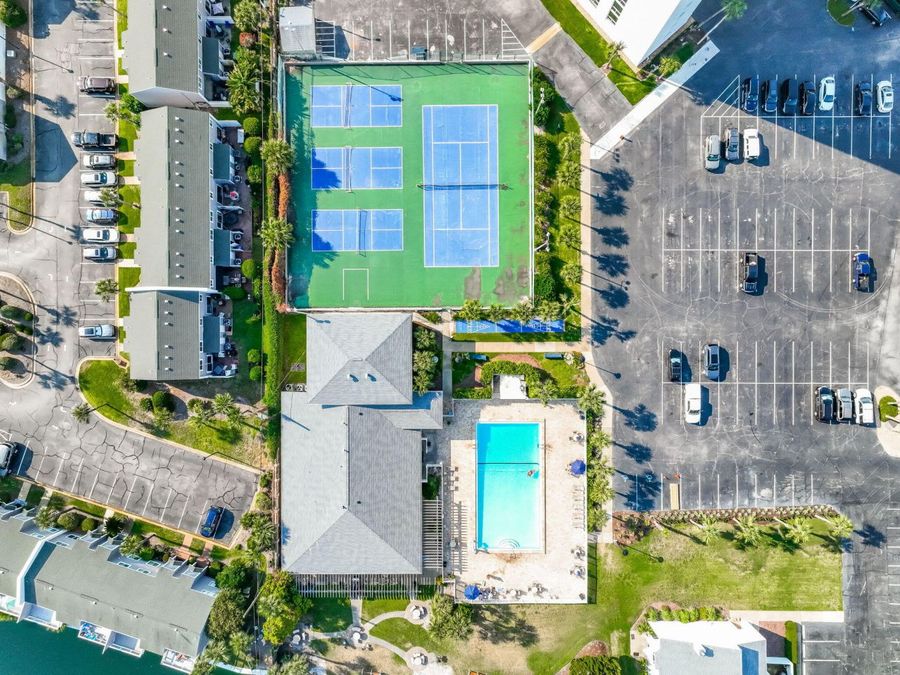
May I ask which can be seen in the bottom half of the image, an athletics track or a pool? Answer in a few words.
pool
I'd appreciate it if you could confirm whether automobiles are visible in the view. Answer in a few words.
Yes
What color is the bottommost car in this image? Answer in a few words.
blue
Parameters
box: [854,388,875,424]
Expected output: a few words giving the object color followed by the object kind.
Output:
white car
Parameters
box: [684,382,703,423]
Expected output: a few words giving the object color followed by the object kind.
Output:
white vehicle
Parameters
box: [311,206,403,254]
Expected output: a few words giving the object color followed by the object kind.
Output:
blue sports court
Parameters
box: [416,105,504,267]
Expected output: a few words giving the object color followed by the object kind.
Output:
blue tennis court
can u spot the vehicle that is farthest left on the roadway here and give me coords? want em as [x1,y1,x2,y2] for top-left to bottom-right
[0,440,20,476]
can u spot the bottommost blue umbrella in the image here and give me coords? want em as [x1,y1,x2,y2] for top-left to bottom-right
[461,582,479,599]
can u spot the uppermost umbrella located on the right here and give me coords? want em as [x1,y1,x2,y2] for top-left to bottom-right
[570,459,586,475]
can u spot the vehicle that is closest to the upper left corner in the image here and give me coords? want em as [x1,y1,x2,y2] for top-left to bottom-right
[80,76,117,94]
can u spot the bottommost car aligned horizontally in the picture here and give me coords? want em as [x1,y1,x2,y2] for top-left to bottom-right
[78,323,117,339]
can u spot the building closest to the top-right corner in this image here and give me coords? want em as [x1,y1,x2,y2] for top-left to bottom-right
[572,0,699,69]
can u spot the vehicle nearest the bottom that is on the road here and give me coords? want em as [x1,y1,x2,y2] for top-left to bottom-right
[200,503,224,539]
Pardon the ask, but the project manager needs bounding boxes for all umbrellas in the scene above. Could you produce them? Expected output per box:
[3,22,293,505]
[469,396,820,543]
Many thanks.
[461,582,479,599]
[219,209,238,229]
[570,459,586,475]
[209,0,225,15]
[230,190,243,200]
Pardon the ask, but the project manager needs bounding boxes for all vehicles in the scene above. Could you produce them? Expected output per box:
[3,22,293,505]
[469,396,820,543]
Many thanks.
[85,207,120,224]
[78,323,117,339]
[0,440,20,476]
[684,382,703,423]
[742,128,760,161]
[835,388,855,422]
[814,386,833,422]
[875,81,894,114]
[722,127,741,162]
[703,134,722,171]
[83,244,119,261]
[854,388,875,424]
[799,81,817,117]
[80,76,117,94]
[84,191,120,205]
[667,350,683,382]
[852,252,873,292]
[200,503,224,539]
[73,131,119,149]
[81,171,118,187]
[817,76,836,112]
[83,152,116,169]
[780,78,800,116]
[741,76,760,113]
[703,345,721,379]
[740,253,758,294]
[854,80,874,117]
[761,79,780,114]
[82,226,121,243]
